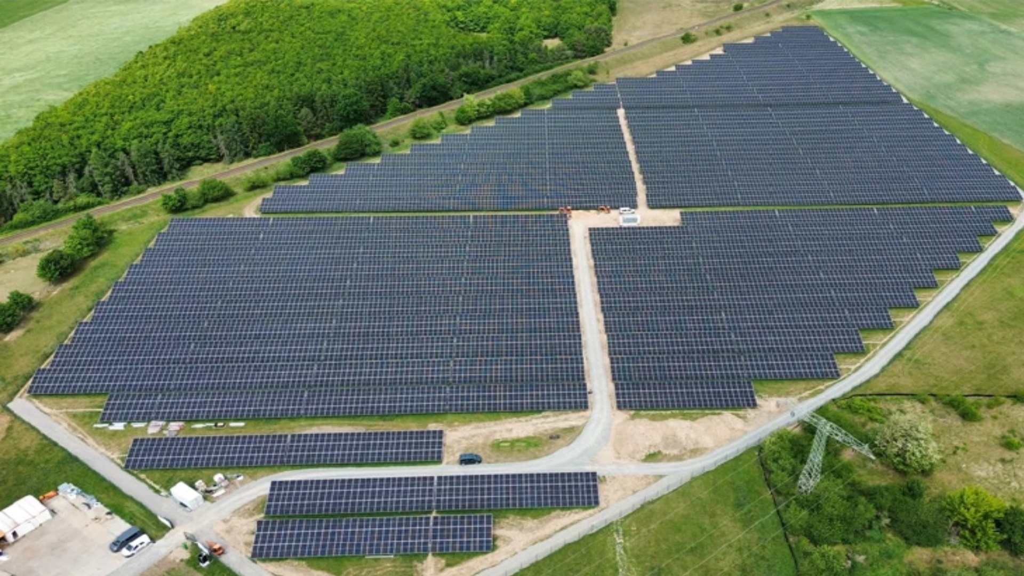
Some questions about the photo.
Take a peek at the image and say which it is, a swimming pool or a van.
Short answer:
van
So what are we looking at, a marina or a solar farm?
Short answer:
solar farm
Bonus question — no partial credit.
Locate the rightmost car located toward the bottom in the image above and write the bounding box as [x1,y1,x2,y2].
[459,454,482,466]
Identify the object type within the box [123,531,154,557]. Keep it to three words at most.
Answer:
vehicle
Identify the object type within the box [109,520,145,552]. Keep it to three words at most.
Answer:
van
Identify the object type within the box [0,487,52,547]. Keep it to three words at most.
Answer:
tent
